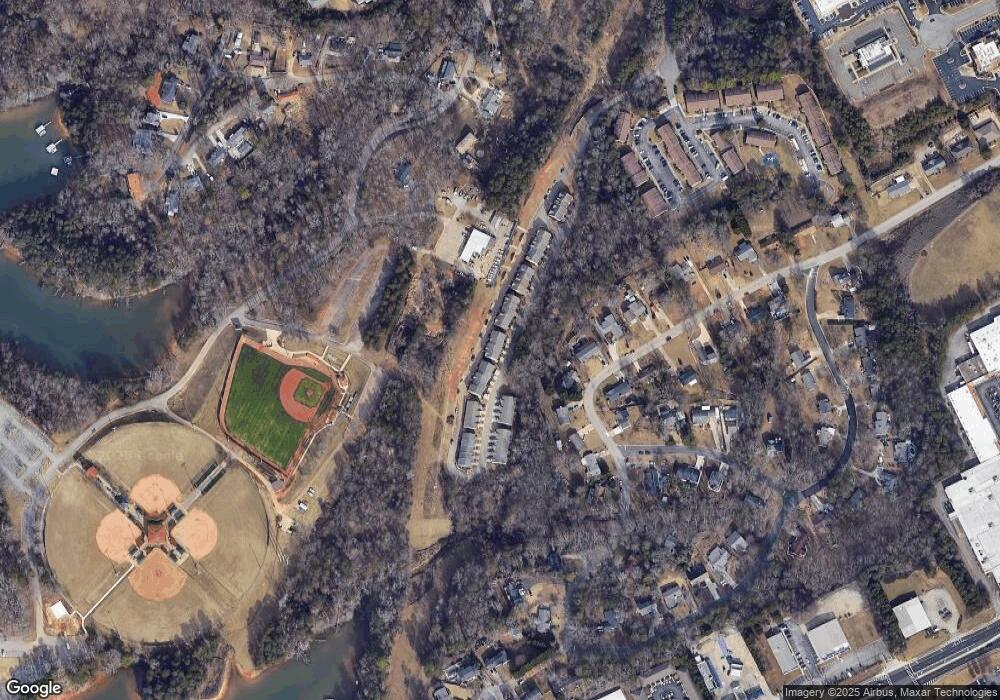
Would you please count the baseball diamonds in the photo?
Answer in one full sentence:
There are 5 baseball diamonds in the image.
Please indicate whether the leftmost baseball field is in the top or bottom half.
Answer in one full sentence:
The leftmost baseball field sits in the bottom half of the picture.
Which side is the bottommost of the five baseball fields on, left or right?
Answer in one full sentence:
You can find the bottommost of the five baseball fields on the left side of the picture.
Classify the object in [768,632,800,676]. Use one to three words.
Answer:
building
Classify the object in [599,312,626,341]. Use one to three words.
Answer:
house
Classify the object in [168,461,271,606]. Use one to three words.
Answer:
baseball field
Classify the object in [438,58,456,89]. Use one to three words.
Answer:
house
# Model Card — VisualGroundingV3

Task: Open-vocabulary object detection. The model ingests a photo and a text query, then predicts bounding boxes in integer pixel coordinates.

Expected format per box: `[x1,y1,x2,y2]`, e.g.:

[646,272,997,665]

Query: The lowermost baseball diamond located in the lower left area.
[85,545,232,645]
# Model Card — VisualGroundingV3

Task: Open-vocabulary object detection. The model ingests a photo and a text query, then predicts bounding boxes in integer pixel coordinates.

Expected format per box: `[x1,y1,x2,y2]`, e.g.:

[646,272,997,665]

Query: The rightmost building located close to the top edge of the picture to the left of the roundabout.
[853,27,895,72]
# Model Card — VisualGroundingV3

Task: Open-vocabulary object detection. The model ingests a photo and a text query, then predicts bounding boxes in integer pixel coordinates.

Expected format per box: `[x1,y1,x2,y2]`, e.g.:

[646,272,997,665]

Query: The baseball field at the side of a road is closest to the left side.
[45,458,146,606]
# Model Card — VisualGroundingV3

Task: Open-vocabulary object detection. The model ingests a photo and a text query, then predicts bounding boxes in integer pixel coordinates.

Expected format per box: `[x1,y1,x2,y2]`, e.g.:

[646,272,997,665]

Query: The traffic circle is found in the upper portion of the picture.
[919,15,953,50]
